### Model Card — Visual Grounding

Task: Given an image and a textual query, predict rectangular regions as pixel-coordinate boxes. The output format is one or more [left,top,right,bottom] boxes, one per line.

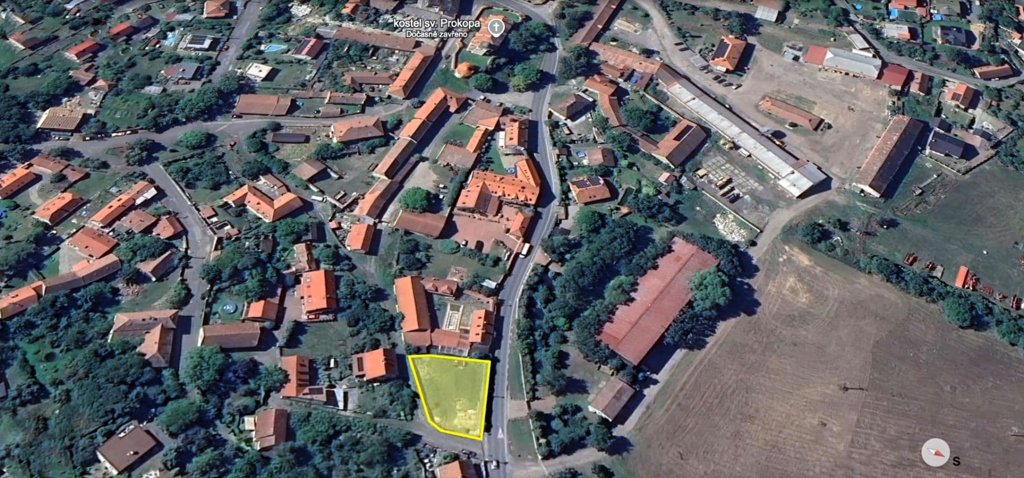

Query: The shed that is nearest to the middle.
[509,213,532,240]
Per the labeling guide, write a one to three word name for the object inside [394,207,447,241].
barn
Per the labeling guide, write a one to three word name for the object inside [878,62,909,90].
building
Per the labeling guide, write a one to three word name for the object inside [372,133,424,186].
house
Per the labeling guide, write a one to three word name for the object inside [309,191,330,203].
vehicle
